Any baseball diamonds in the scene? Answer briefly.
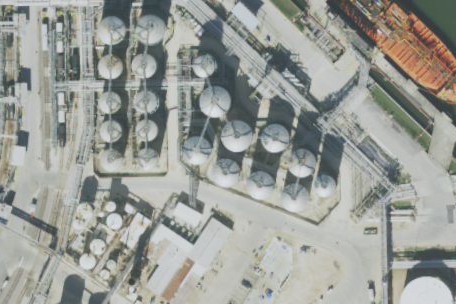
No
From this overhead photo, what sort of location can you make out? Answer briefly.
industrial area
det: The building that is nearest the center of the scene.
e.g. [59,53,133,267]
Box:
[172,202,204,229]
